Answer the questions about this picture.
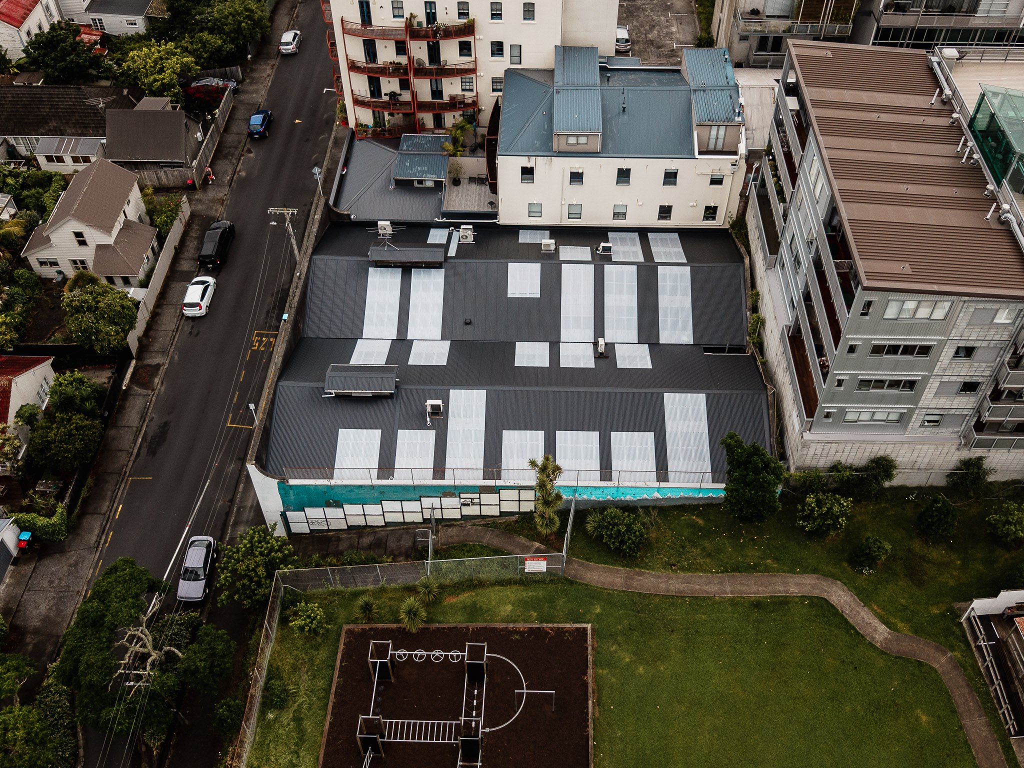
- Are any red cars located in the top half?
No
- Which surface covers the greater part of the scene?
buildings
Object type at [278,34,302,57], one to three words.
car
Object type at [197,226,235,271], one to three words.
car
